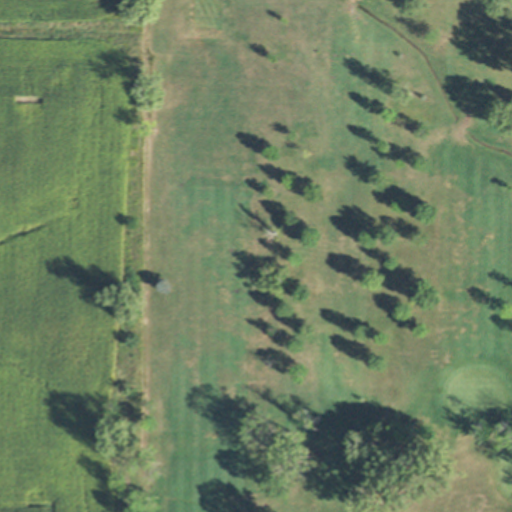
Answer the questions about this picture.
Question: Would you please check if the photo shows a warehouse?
No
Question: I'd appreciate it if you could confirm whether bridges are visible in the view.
No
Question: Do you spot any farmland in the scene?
Yes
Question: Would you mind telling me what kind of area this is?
golf course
